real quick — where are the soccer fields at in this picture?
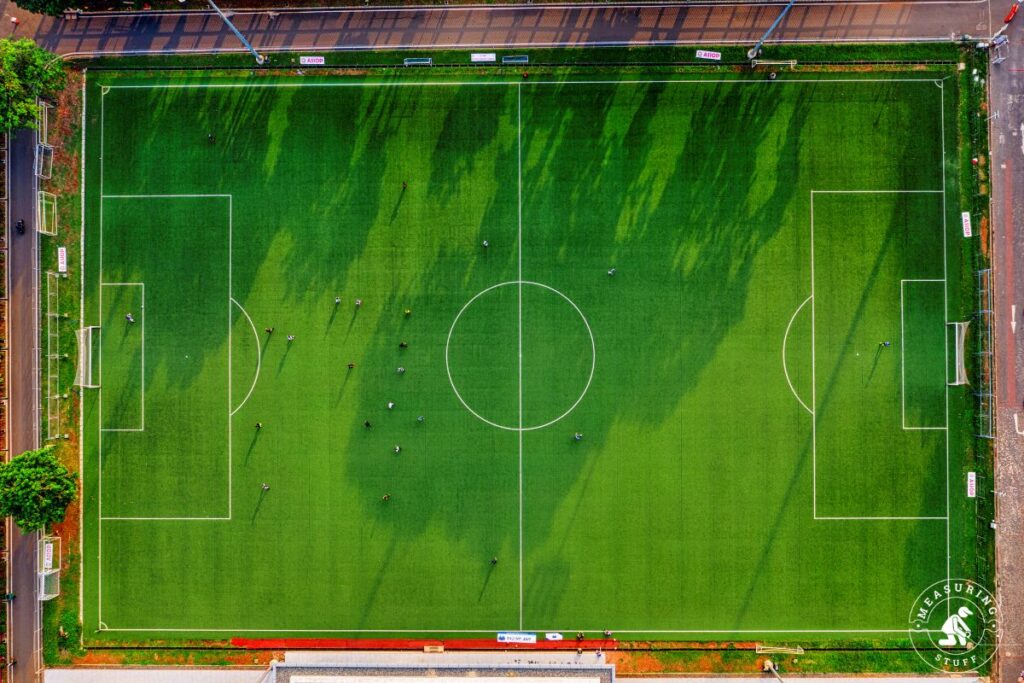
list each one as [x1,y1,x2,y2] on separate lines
[81,72,962,641]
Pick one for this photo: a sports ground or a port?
sports ground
